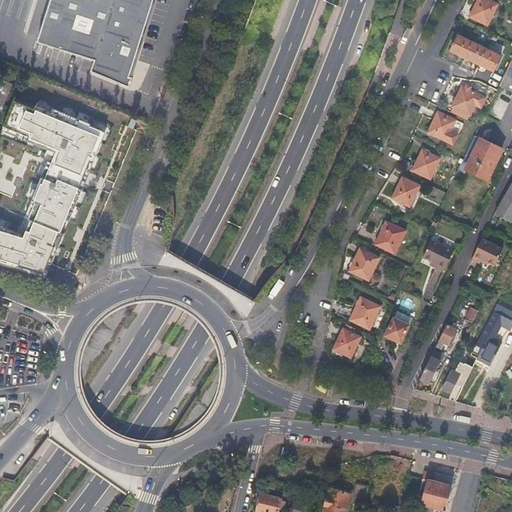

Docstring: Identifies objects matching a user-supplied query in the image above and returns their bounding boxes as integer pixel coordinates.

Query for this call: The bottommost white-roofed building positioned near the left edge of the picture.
[0,220,64,274]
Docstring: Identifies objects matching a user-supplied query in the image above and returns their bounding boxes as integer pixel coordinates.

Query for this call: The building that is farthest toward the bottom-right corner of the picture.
[420,478,454,512]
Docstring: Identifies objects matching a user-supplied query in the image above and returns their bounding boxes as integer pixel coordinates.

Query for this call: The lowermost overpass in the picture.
[42,414,144,497]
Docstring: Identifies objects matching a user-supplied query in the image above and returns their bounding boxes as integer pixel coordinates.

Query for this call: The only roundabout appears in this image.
[50,273,250,472]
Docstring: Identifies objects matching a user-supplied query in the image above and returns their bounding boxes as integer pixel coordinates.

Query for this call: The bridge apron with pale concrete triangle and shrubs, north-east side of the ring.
[154,248,255,318]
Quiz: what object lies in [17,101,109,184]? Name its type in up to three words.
building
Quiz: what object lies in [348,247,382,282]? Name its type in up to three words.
house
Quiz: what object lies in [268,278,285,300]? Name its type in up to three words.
vehicle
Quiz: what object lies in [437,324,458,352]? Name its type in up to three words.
house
